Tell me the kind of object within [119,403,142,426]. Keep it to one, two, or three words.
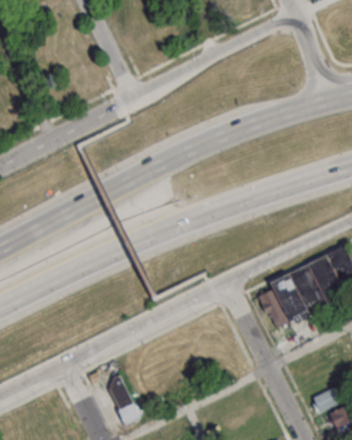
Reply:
building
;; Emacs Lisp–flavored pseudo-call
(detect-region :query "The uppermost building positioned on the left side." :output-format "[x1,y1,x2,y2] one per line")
[110,376,132,408]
